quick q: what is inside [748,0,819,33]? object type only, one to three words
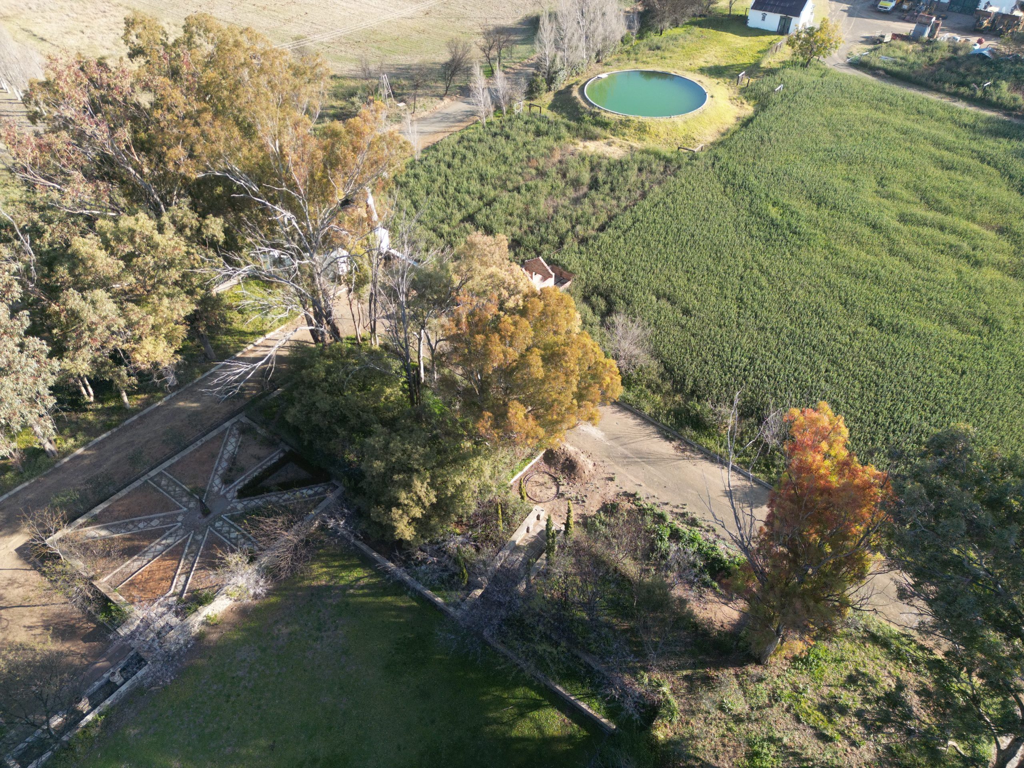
house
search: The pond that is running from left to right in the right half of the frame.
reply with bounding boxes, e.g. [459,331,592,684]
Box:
[583,71,710,123]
